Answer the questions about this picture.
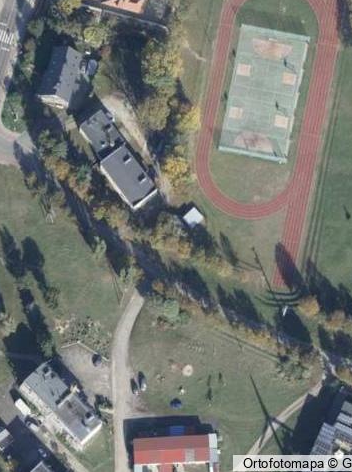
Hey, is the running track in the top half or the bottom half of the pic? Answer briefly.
top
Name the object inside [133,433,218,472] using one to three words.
building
